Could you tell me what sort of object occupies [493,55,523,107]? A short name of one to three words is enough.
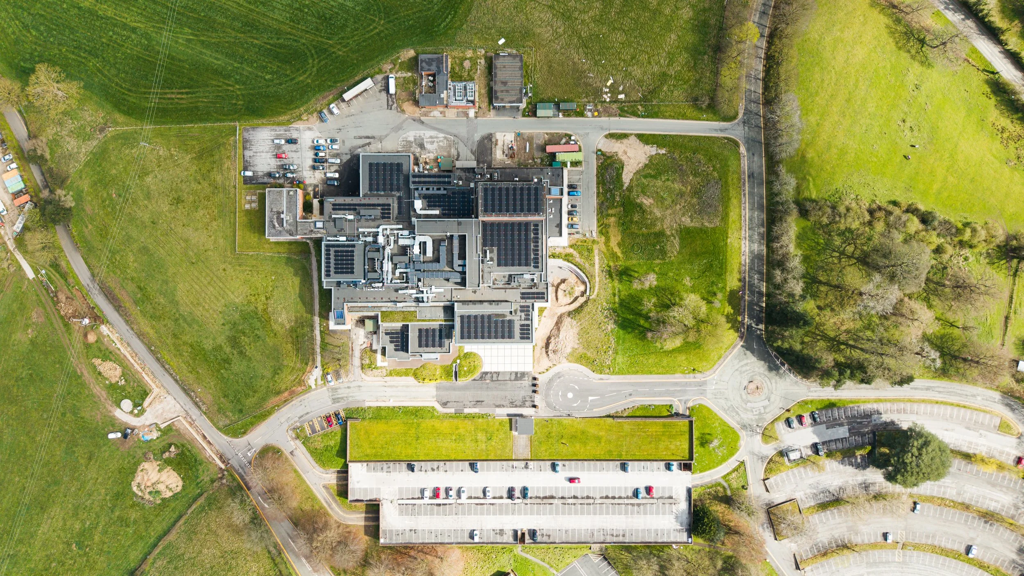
building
